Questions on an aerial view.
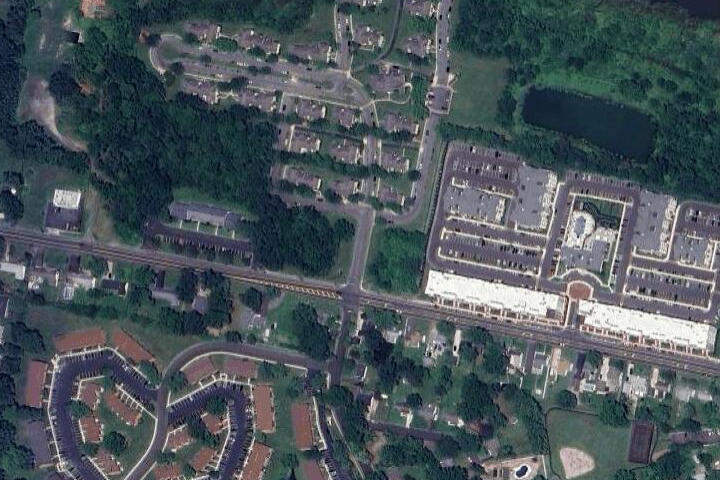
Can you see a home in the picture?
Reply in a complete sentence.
Yes, the picture does show a home.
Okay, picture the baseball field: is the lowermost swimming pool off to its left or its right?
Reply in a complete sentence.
Compared with the baseball field, the lowermost swimming pool is located further to the left.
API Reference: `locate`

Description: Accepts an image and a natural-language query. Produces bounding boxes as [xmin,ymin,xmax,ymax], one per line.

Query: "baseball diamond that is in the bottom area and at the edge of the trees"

[550,411,627,480]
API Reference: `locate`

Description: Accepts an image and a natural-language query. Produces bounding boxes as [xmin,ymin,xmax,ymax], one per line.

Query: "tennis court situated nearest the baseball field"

[627,420,656,464]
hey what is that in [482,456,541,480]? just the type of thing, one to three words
swimming pool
